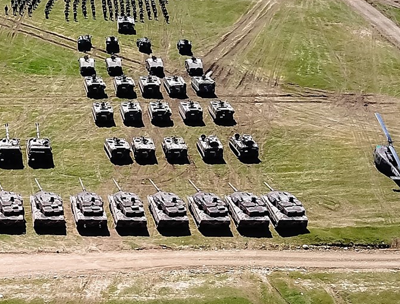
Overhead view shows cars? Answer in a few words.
Yes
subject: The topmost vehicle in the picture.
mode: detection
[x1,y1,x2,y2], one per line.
[115,12,134,31]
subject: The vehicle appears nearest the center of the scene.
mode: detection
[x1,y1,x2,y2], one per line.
[194,131,222,159]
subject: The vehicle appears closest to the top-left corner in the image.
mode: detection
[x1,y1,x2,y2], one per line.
[76,36,89,50]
